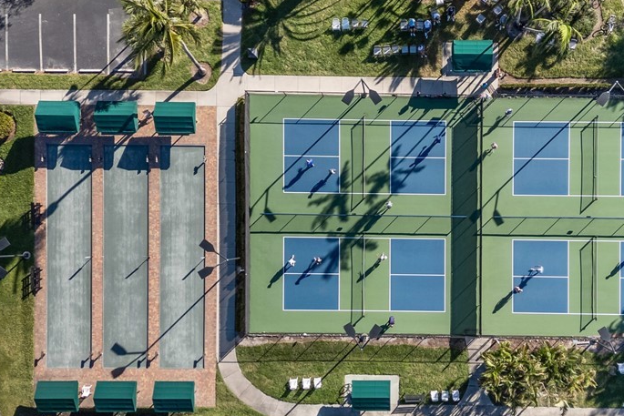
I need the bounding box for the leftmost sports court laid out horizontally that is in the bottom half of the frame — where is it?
[283,236,445,312]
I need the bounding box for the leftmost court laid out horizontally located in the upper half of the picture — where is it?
[284,118,446,194]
